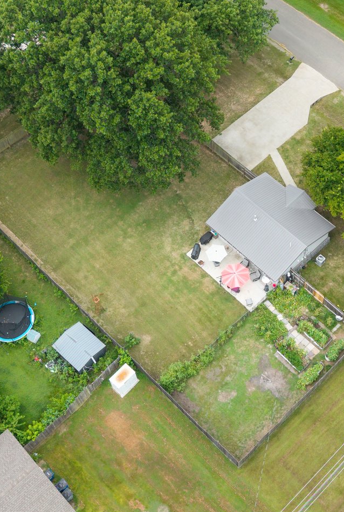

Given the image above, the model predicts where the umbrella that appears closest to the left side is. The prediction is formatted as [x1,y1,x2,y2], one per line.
[206,243,228,265]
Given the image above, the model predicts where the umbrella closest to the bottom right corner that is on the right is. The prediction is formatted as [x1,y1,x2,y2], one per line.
[216,261,250,292]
